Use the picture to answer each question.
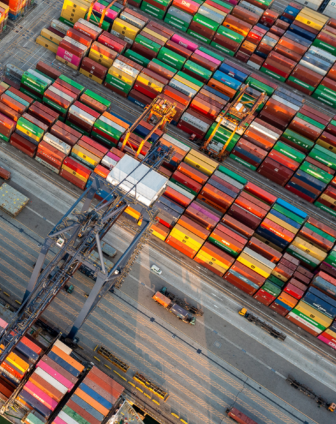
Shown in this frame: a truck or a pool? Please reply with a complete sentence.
I can see a truck in this picture.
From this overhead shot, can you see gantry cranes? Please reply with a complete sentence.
Yes, this view includes a gantry crane.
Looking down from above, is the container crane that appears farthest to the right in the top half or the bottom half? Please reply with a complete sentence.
You can find the container crane that appears farthest to the right in the top half.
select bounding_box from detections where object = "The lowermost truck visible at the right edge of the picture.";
[288,376,335,410]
